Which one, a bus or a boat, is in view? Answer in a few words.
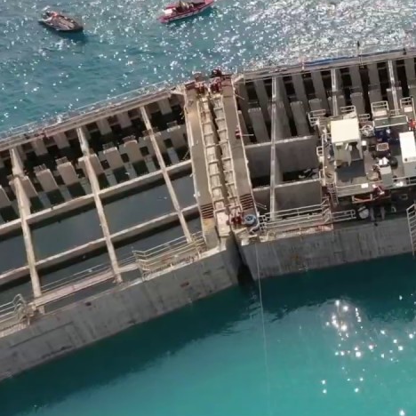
boat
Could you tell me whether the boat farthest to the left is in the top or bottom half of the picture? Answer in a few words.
top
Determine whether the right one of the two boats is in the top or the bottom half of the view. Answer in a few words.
top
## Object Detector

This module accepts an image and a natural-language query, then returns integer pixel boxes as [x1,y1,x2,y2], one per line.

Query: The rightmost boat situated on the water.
[157,0,214,26]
